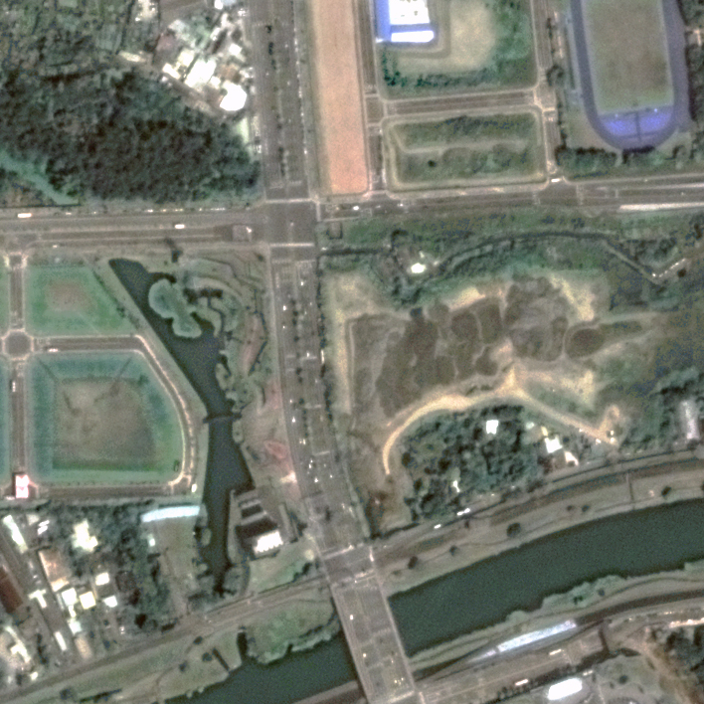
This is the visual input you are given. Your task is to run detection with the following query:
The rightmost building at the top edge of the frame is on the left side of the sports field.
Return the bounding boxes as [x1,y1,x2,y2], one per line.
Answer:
[375,0,433,44]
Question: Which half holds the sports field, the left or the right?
right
